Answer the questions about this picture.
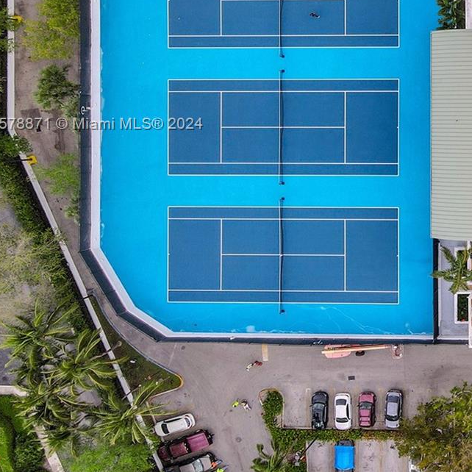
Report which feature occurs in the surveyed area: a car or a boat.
car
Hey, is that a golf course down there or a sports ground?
sports ground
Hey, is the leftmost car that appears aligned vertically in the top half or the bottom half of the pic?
bottom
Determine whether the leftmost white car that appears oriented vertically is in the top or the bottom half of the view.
bottom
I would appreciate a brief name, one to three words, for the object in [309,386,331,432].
car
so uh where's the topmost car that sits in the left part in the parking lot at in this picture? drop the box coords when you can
[155,411,198,438]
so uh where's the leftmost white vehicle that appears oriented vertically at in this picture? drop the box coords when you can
[332,387,354,432]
